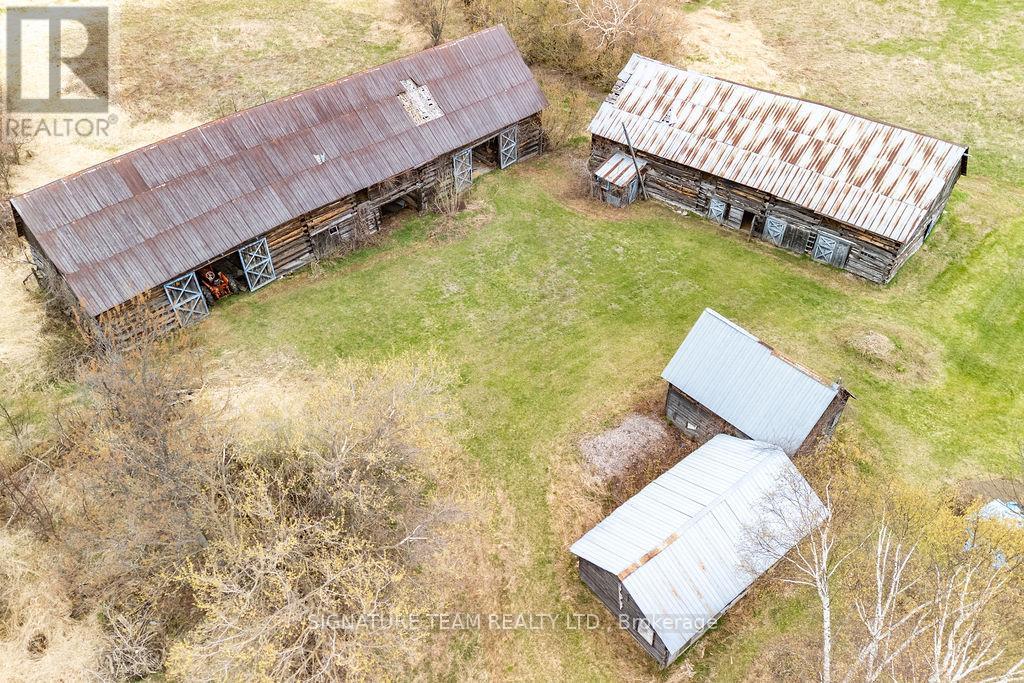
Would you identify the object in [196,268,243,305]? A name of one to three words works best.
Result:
work vehicle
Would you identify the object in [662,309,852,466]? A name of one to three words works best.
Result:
shed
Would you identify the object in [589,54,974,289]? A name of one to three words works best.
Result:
barn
